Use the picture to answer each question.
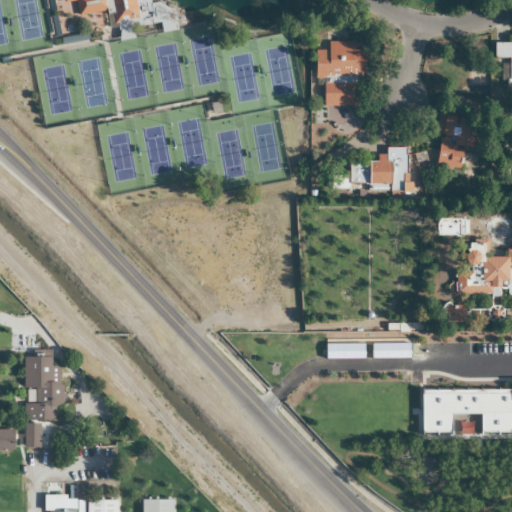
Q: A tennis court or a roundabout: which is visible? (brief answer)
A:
tennis court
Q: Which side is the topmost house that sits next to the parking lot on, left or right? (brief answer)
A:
left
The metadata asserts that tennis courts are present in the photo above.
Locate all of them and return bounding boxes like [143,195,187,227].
[243,110,290,184]
[169,105,216,182]
[146,30,194,109]
[98,118,146,193]
[8,0,53,52]
[110,36,159,116]
[223,39,269,114]
[134,112,181,188]
[33,50,82,128]
[70,44,116,122]
[182,26,230,102]
[256,34,296,108]
[207,115,255,191]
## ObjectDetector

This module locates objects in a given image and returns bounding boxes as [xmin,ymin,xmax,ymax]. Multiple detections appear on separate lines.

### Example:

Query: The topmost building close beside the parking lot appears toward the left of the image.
[25,350,66,421]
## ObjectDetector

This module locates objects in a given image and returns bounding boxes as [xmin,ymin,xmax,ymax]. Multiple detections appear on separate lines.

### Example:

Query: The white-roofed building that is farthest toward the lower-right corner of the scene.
[424,388,512,435]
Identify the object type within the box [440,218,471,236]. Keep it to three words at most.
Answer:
building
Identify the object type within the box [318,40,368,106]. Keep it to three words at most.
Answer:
house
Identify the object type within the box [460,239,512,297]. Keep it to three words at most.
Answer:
house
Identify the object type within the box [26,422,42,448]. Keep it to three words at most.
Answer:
building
